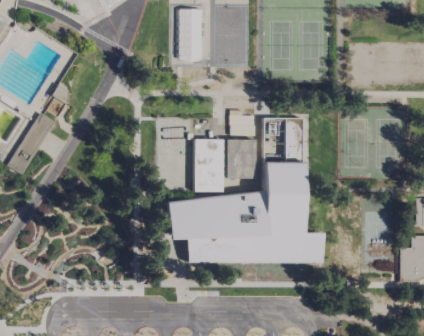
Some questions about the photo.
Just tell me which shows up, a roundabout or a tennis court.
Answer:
tennis court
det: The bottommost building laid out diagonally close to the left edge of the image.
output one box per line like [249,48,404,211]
[5,116,54,172]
